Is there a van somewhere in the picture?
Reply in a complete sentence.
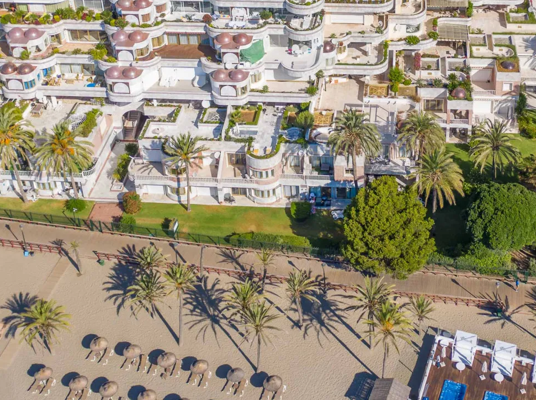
No, there appears to be no van in this shot.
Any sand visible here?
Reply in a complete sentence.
Yes, sand can be seen from above here.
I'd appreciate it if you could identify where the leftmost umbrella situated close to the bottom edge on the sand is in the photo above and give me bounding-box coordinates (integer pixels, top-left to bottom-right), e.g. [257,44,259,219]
[34,368,56,389]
